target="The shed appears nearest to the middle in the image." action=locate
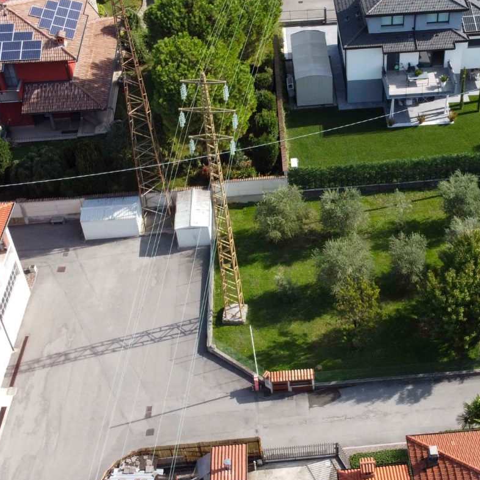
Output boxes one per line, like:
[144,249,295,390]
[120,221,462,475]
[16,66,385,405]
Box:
[167,182,212,250]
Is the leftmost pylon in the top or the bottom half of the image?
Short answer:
top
